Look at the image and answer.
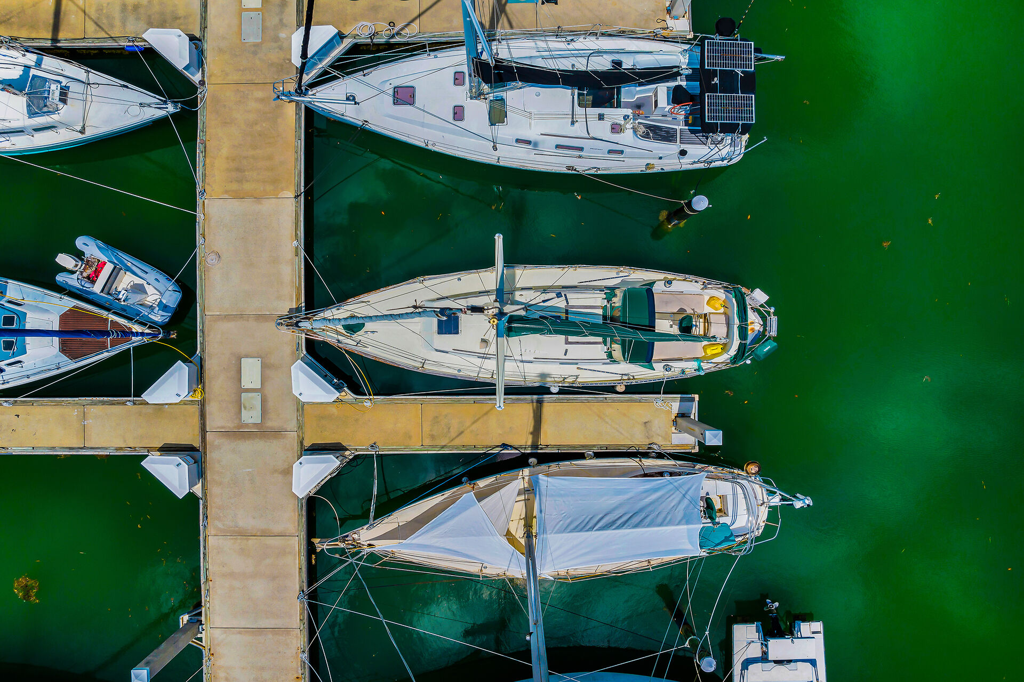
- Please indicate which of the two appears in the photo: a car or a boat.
boat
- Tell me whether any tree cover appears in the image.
No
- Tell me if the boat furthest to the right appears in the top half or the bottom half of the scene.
bottom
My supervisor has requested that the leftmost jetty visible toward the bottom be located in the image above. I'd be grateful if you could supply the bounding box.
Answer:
[0,349,201,501]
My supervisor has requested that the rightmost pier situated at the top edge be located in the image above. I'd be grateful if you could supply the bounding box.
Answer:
[304,0,693,90]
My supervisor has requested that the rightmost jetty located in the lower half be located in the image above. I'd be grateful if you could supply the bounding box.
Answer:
[303,348,699,502]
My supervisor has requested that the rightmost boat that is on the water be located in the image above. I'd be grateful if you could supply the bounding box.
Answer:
[731,601,827,682]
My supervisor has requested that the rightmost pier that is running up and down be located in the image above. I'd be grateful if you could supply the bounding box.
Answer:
[180,0,314,682]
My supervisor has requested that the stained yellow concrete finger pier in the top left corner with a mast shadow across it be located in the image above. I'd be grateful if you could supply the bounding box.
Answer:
[0,0,200,88]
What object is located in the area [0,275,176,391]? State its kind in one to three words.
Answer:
boat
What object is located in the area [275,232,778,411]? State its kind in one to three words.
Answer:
boat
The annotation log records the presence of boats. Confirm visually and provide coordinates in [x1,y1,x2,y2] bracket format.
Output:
[0,275,176,391]
[731,601,827,682]
[270,0,785,178]
[0,33,181,157]
[414,659,709,682]
[57,238,183,325]
[311,455,812,682]
[275,232,778,411]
